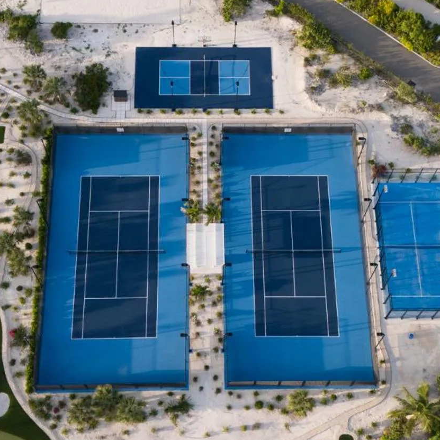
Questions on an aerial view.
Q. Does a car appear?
No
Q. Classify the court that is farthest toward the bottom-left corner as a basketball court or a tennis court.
tennis court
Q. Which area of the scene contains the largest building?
center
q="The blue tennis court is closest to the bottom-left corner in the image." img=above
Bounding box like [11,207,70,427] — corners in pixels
[36,134,189,392]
